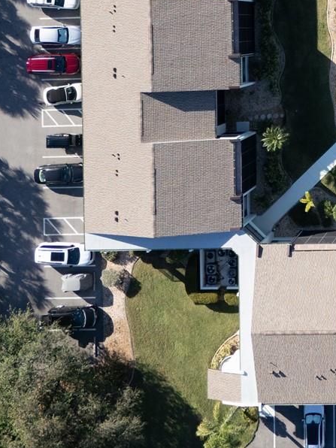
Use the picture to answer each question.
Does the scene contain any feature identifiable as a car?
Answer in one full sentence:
Yes, looking at the shot, I can spot a car.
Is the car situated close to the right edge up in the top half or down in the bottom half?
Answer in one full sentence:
You can find the car situated close to the right edge in the bottom half.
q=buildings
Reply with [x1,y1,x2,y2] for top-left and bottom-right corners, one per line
[80,0,260,238]
[251,228,336,405]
